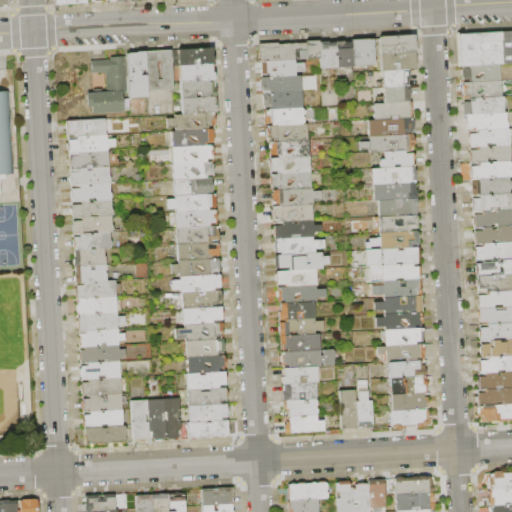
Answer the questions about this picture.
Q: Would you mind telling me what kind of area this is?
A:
residential area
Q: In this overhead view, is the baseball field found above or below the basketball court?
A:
below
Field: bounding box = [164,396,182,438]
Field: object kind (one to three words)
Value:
house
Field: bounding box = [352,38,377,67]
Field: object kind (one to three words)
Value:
house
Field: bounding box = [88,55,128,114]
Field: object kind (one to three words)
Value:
building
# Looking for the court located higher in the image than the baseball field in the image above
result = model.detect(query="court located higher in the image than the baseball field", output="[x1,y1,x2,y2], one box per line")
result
[0,200,25,270]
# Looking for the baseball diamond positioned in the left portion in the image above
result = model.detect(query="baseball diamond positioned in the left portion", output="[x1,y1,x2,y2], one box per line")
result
[0,274,29,436]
